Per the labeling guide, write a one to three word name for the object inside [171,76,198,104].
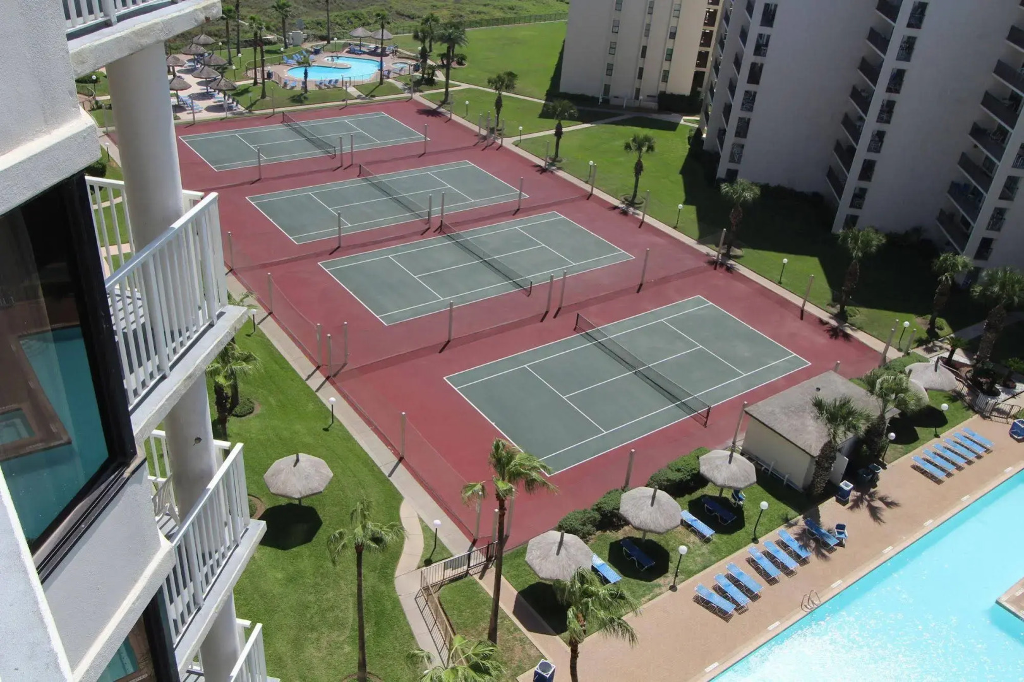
umbrella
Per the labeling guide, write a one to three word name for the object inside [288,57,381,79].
swimming pool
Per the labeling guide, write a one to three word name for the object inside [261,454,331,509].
umbrella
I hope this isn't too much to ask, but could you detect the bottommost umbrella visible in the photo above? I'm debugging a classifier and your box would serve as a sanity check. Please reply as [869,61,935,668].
[522,528,598,588]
